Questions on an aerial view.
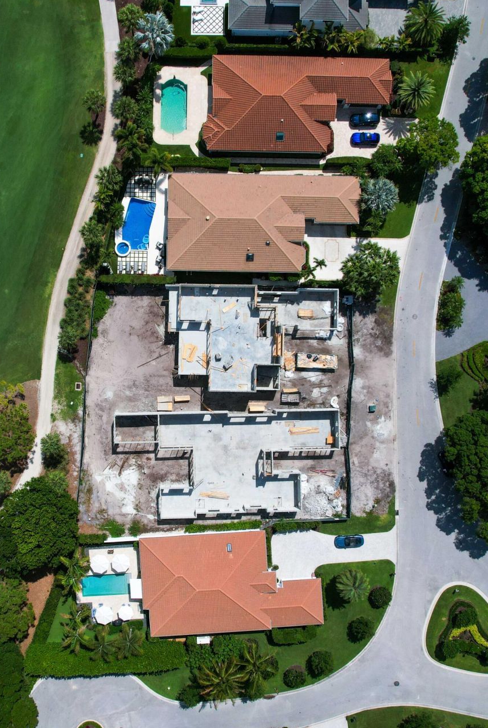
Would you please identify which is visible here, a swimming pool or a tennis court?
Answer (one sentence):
The one in the frame is a swimming pool.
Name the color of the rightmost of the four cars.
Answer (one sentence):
The color of the rightmost of the four cars is black.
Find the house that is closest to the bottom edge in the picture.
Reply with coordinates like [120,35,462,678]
[139,531,324,638]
